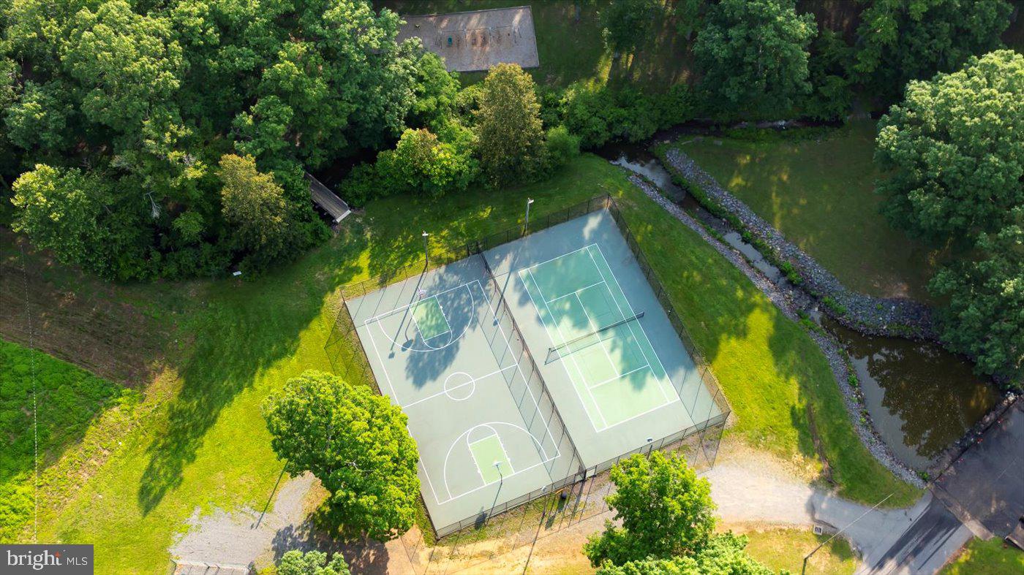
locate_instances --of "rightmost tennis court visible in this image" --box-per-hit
[483,208,724,477]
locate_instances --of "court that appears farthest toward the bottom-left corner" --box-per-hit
[347,252,588,536]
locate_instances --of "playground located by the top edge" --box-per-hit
[375,5,540,77]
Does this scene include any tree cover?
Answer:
Yes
